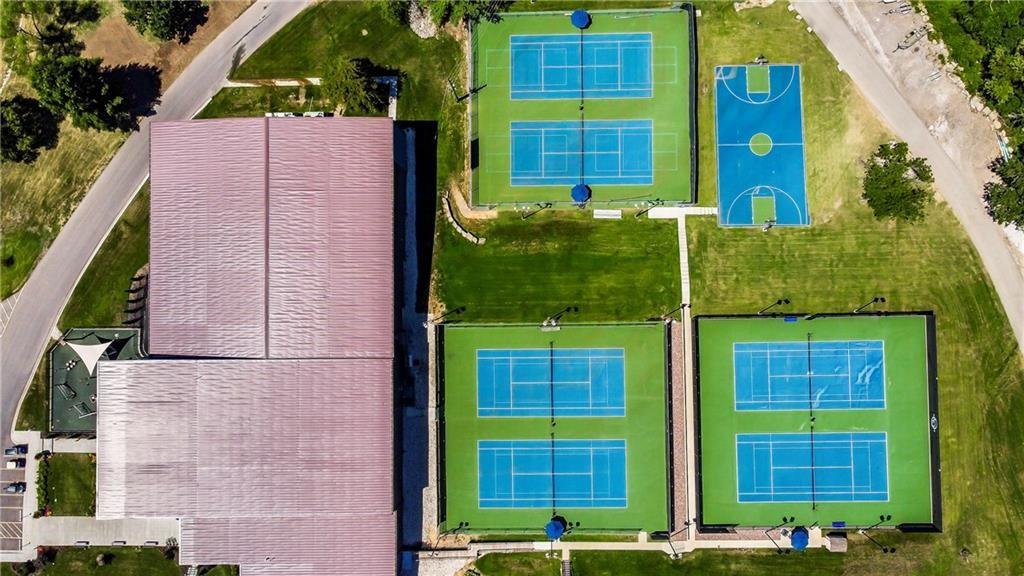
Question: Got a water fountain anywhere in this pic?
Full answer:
No, this view has no water fountain in it.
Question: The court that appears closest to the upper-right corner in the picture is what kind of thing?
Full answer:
I'd say the court that appears closest to the upper-right corner is a basketball court.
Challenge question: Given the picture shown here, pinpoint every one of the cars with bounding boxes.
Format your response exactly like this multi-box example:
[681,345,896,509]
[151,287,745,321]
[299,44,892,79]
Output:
[2,445,26,457]
[0,483,25,496]
[2,458,26,470]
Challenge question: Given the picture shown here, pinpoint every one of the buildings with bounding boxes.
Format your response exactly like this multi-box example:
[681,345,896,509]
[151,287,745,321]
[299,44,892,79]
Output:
[832,535,854,556]
[95,114,403,576]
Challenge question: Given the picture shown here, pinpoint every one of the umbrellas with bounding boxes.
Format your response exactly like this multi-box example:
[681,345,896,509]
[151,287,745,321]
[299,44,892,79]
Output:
[571,184,590,203]
[571,10,590,30]
[545,518,564,538]
[788,527,808,547]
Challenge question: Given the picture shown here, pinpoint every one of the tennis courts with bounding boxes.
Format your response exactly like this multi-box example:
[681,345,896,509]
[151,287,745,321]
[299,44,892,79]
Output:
[696,420,932,527]
[442,428,669,532]
[440,324,667,429]
[472,108,691,206]
[696,317,929,422]
[471,12,690,110]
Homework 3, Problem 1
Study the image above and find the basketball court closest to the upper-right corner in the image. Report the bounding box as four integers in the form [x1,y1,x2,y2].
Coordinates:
[715,63,811,227]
